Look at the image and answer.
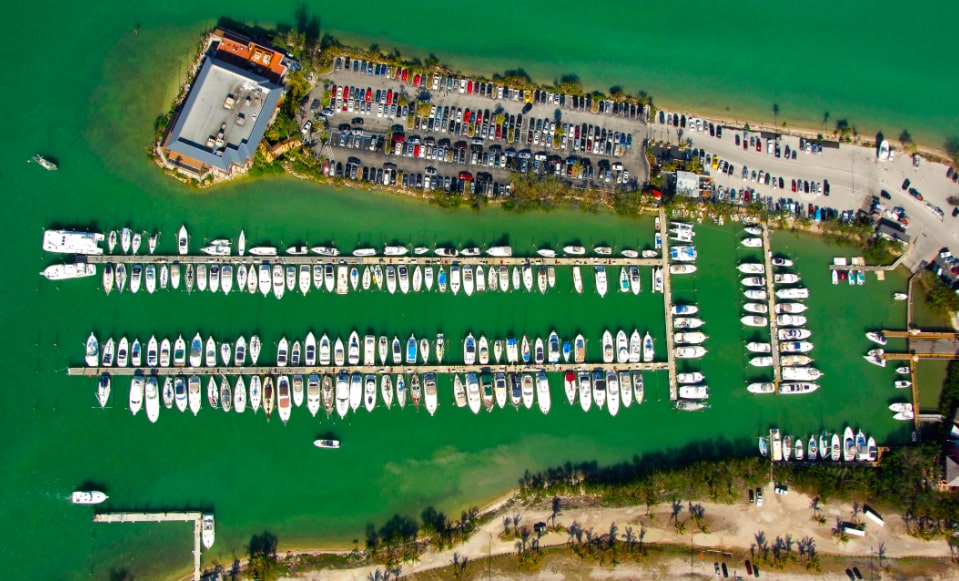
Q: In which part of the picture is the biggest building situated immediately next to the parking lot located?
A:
top left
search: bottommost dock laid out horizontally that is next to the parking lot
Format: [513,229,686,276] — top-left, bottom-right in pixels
[67,363,668,376]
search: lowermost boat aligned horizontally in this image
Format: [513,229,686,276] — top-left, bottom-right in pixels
[71,492,107,505]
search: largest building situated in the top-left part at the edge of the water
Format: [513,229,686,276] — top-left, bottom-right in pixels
[158,28,288,182]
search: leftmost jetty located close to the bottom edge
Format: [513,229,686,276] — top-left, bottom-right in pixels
[94,510,203,581]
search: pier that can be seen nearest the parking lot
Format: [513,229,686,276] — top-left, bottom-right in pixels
[658,206,677,400]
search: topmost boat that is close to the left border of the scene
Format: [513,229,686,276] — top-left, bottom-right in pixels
[33,154,58,171]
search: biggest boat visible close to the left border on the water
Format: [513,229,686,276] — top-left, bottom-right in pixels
[41,229,105,257]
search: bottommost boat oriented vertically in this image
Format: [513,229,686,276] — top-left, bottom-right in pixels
[199,513,214,549]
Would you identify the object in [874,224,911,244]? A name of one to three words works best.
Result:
shed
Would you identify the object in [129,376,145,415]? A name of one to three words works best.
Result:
boat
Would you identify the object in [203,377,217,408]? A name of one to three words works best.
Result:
boat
